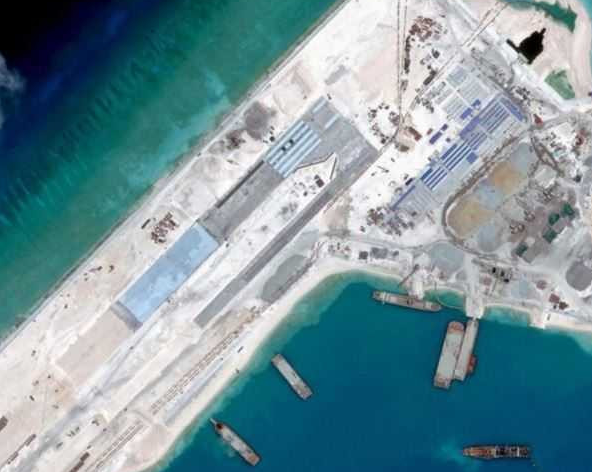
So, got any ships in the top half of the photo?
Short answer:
No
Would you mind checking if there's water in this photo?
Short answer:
Yes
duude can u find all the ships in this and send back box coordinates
[271,354,312,399]
[462,446,529,457]
[453,320,478,381]
[435,321,463,390]
[372,292,443,310]
[210,418,260,465]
